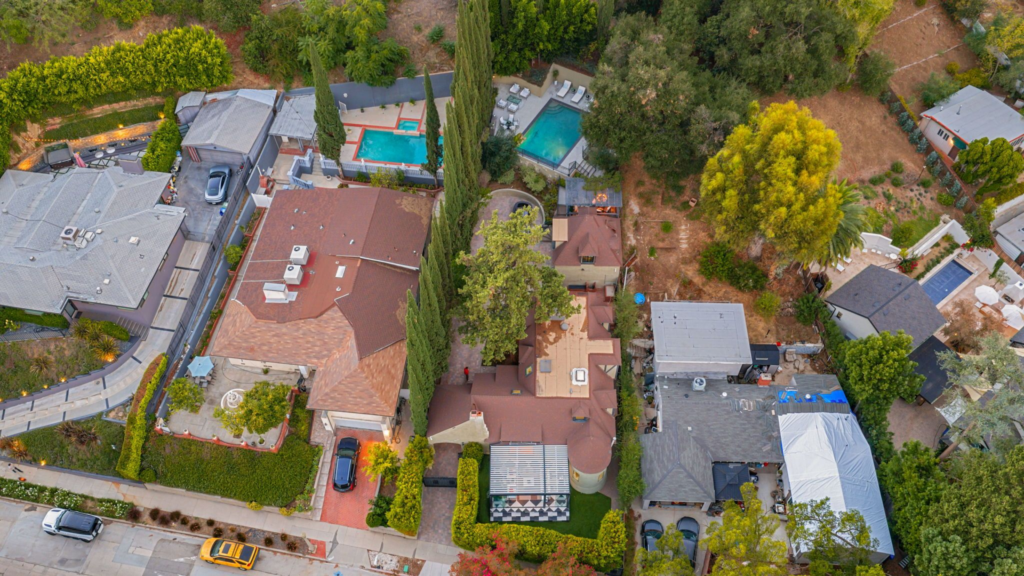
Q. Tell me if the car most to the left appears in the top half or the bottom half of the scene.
bottom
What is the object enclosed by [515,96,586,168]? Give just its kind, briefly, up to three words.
swimming pool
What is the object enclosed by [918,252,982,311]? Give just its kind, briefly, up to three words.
swimming pool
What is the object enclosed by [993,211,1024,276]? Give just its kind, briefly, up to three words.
shed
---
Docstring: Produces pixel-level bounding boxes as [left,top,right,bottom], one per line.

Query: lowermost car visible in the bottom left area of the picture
[194,535,257,574]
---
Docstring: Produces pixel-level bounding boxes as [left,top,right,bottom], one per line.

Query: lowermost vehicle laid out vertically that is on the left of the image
[328,437,360,493]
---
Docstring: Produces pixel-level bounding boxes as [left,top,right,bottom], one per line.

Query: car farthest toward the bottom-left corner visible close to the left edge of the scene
[34,506,102,546]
